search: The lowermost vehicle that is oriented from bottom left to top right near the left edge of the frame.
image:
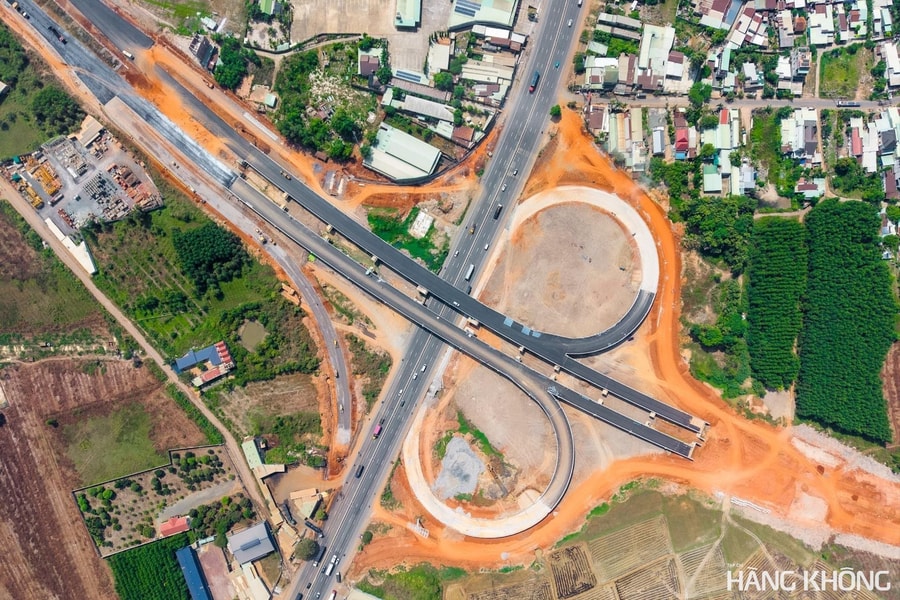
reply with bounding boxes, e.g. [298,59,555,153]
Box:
[45,192,65,206]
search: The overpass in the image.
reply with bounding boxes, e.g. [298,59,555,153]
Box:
[228,173,702,464]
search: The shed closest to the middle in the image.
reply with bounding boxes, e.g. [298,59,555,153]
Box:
[409,212,433,239]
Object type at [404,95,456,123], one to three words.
house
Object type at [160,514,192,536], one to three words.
house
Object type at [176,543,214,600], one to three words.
shed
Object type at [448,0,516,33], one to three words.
building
